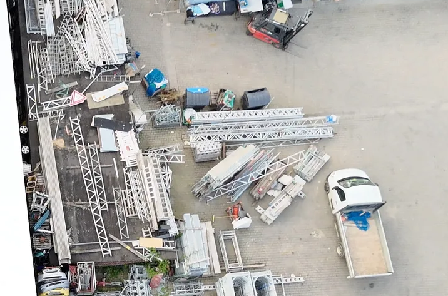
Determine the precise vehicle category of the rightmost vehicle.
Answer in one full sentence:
The rightmost vehicle appears to be a truck.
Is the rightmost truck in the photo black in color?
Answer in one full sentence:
No, the rightmost truck is actually white.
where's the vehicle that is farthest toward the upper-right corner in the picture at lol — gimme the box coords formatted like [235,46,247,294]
[257,2,313,47]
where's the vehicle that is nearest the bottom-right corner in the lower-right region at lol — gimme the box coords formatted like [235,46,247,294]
[325,170,392,280]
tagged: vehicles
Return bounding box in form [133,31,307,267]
[257,2,313,47]
[325,170,392,280]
